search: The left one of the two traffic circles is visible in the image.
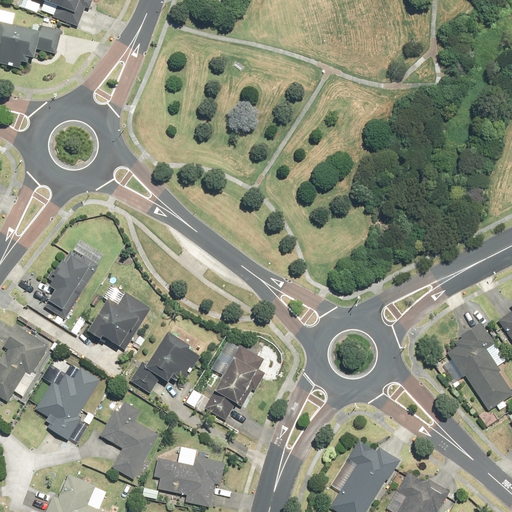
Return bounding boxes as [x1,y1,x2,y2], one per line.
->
[16,84,142,208]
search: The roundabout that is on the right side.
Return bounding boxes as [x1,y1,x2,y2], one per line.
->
[296,294,411,410]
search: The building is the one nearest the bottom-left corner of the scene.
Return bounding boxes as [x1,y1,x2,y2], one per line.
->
[49,474,106,512]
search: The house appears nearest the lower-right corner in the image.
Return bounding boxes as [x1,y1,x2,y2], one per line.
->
[387,474,450,512]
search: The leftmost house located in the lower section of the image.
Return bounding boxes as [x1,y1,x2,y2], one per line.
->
[0,326,48,400]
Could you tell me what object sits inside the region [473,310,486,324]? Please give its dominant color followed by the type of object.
white vehicle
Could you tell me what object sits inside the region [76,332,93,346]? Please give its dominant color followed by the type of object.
white vehicle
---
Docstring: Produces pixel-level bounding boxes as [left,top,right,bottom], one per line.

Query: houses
[387,474,450,512]
[0,326,48,400]
[444,322,512,411]
[205,342,264,422]
[0,10,62,69]
[42,240,102,320]
[49,474,106,512]
[125,332,200,396]
[35,365,100,443]
[101,400,158,480]
[331,440,401,512]
[150,446,226,512]
[88,286,150,352]
[25,0,90,28]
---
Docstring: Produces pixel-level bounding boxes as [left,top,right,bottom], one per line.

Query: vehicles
[35,492,50,502]
[120,484,131,500]
[165,384,178,398]
[18,280,33,292]
[464,310,475,326]
[37,282,52,293]
[214,488,232,497]
[76,332,93,346]
[230,410,246,422]
[32,500,48,510]
[176,378,185,392]
[473,310,486,324]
